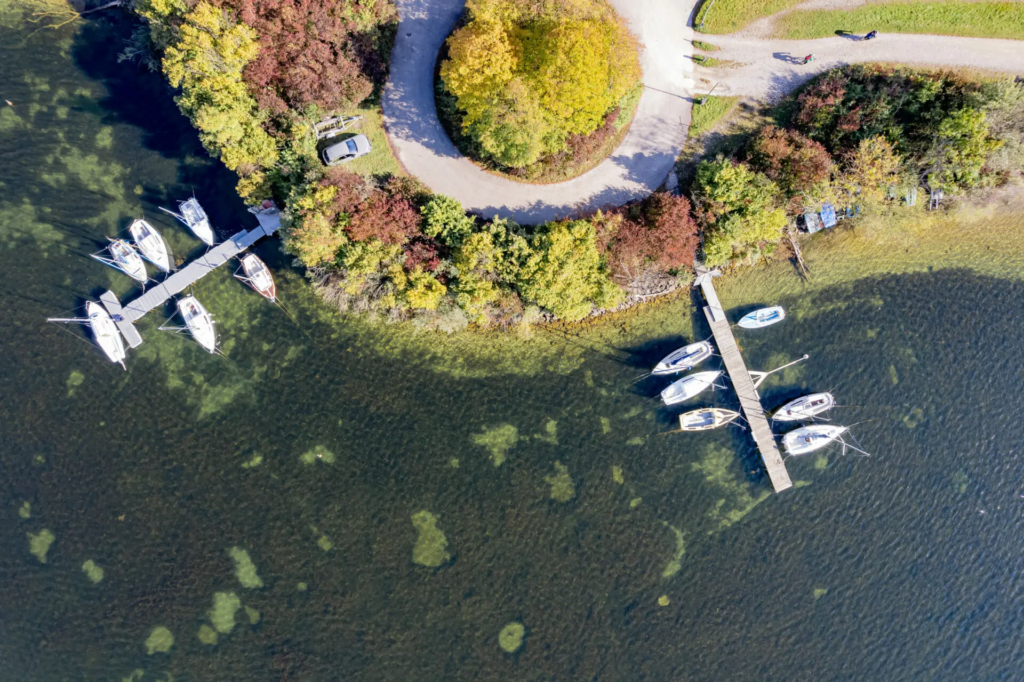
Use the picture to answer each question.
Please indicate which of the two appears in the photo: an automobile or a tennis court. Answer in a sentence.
The image shows an automobile.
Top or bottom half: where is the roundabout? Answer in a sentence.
The top half of the photo is where the roundabout is.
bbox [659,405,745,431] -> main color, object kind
white boat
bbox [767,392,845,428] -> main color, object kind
white boat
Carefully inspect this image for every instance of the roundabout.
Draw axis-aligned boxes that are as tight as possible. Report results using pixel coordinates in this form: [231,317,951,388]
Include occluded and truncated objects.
[381,0,698,227]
